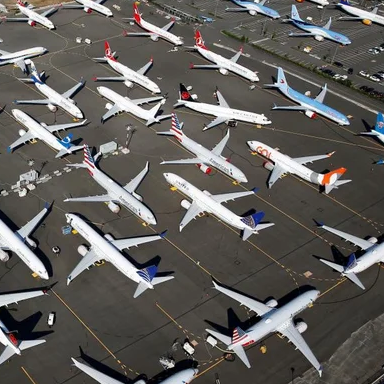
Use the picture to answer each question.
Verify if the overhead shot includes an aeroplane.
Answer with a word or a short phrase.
Yes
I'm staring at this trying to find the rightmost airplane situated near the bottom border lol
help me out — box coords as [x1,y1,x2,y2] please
[208,279,325,372]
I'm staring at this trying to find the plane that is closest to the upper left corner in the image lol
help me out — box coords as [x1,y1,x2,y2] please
[3,0,57,32]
